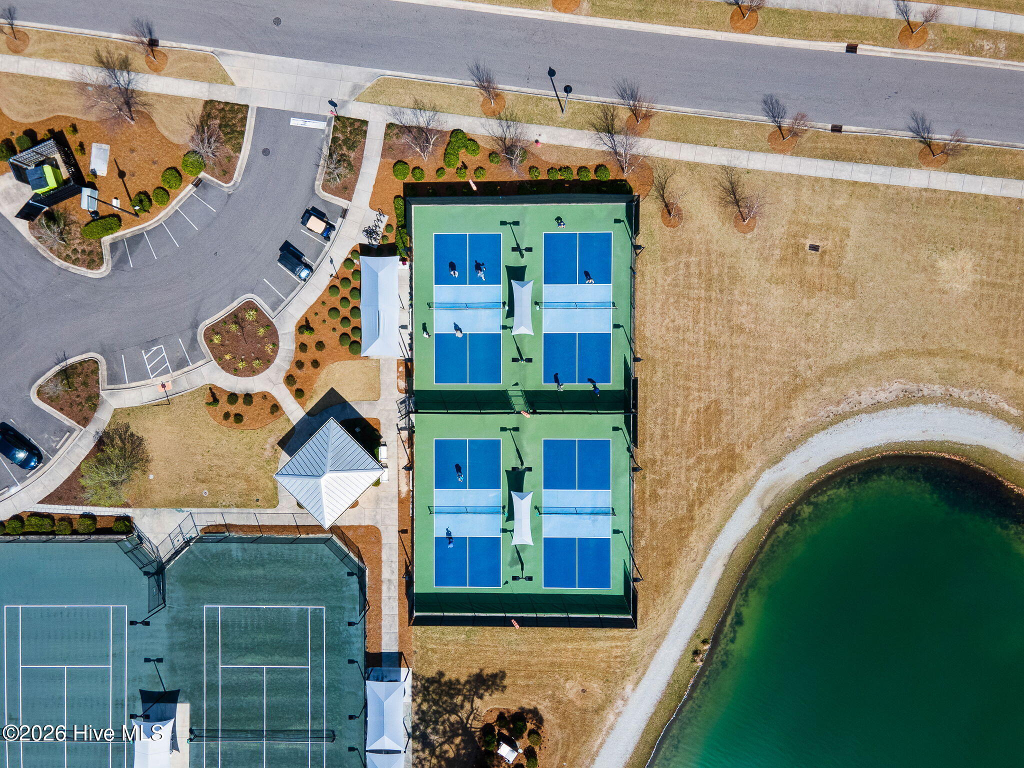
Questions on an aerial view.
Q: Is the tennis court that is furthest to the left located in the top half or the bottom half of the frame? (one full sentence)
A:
It is in the bottom half that the tennis court that is furthest to the left appears.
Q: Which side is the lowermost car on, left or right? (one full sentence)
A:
The lowermost car is on the left side of the image.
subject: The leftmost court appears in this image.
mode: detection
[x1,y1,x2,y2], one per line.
[0,541,165,768]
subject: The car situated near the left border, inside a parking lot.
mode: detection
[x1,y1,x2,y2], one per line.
[0,427,42,471]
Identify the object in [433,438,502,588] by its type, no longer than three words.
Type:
sports court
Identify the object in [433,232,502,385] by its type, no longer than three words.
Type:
sports court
